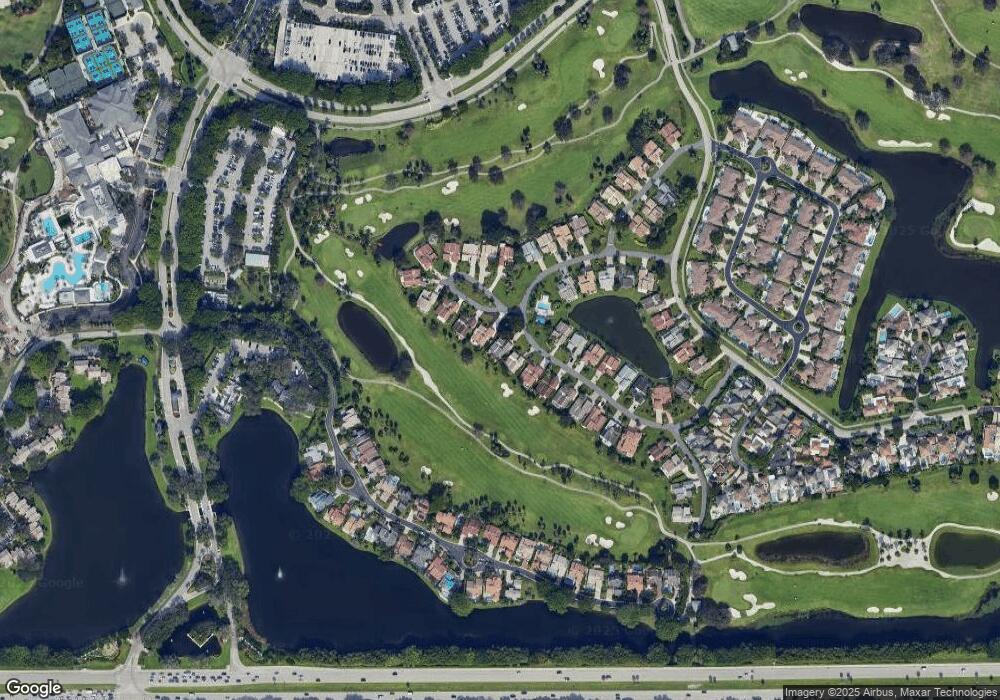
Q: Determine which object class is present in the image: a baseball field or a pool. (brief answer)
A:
pool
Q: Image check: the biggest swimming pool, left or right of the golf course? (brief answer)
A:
left of it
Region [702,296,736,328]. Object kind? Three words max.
house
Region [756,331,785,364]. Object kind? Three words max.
house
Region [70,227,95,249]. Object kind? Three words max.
swimming pool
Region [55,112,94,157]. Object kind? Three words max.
building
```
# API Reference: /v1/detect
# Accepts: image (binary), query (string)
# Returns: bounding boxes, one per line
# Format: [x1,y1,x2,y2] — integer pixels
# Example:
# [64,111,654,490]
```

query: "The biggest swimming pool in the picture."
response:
[40,250,89,295]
